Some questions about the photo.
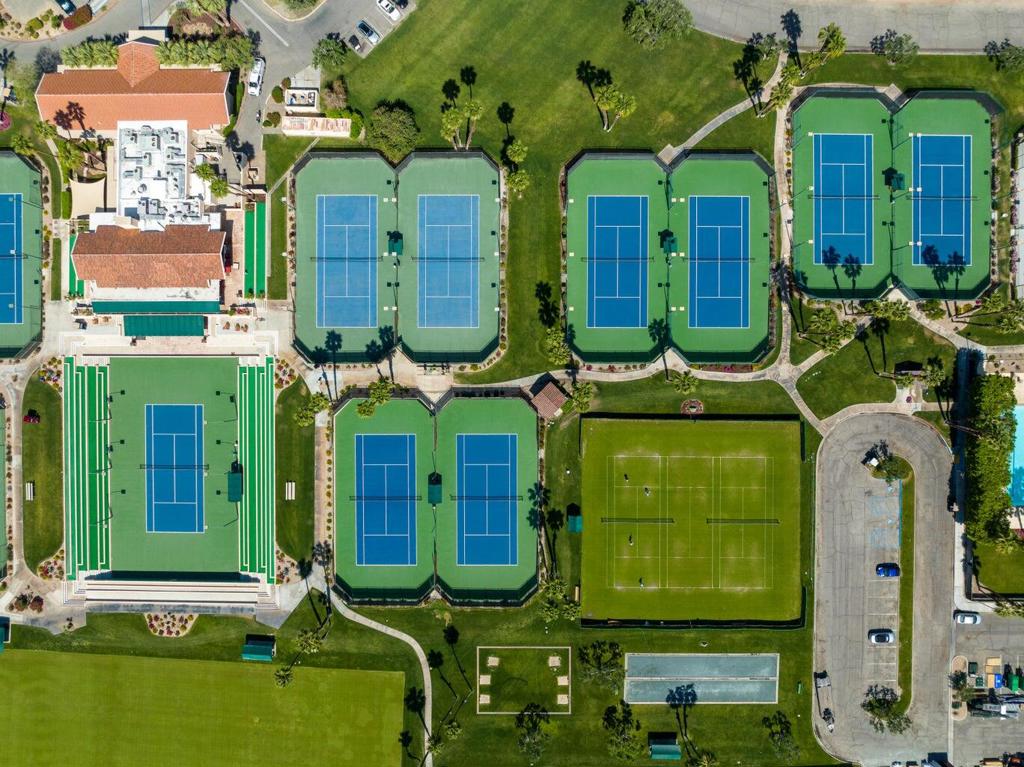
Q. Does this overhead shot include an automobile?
Yes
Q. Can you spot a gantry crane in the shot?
No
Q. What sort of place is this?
sports ground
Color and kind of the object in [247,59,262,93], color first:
white vehicle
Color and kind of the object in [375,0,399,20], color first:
white car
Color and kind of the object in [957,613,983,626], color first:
white vehicle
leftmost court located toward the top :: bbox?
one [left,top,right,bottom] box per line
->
[0,157,41,356]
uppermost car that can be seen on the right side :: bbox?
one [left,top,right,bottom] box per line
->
[877,565,901,578]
